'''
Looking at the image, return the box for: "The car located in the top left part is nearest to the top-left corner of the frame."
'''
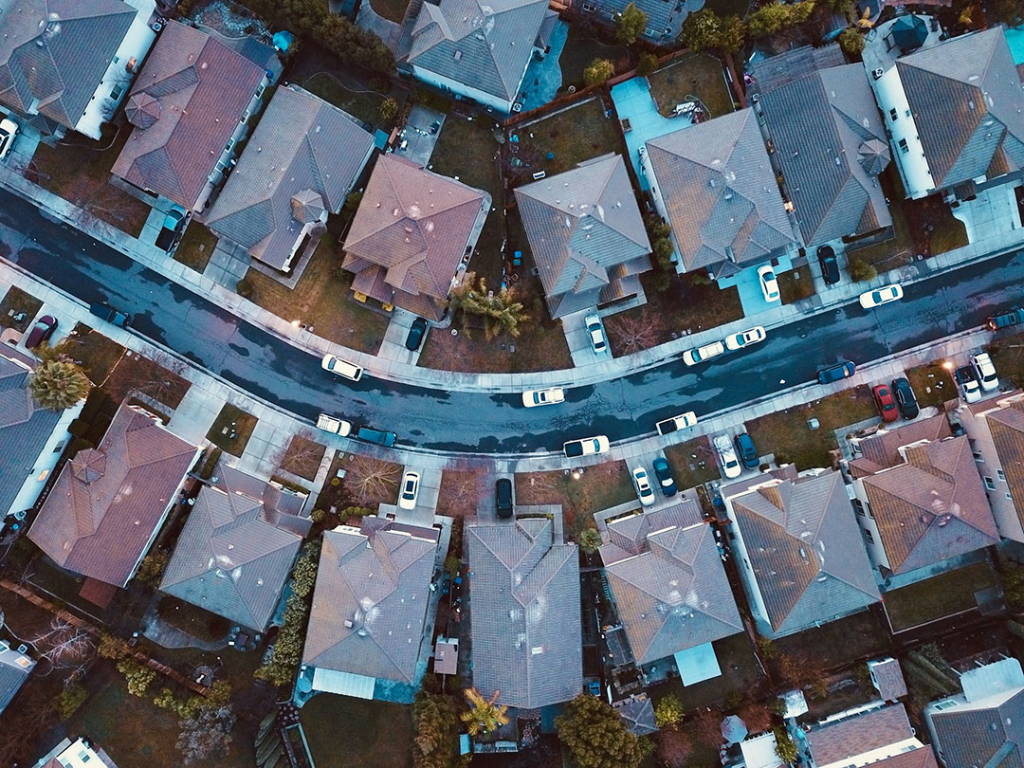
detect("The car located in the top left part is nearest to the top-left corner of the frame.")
[0,118,23,164]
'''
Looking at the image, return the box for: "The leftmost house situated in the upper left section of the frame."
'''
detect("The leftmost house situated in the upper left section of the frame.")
[0,0,156,142]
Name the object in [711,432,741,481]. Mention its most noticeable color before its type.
white truck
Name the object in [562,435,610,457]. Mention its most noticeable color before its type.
white truck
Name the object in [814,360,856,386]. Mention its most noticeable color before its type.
blue car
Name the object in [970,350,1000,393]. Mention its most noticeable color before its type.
white car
